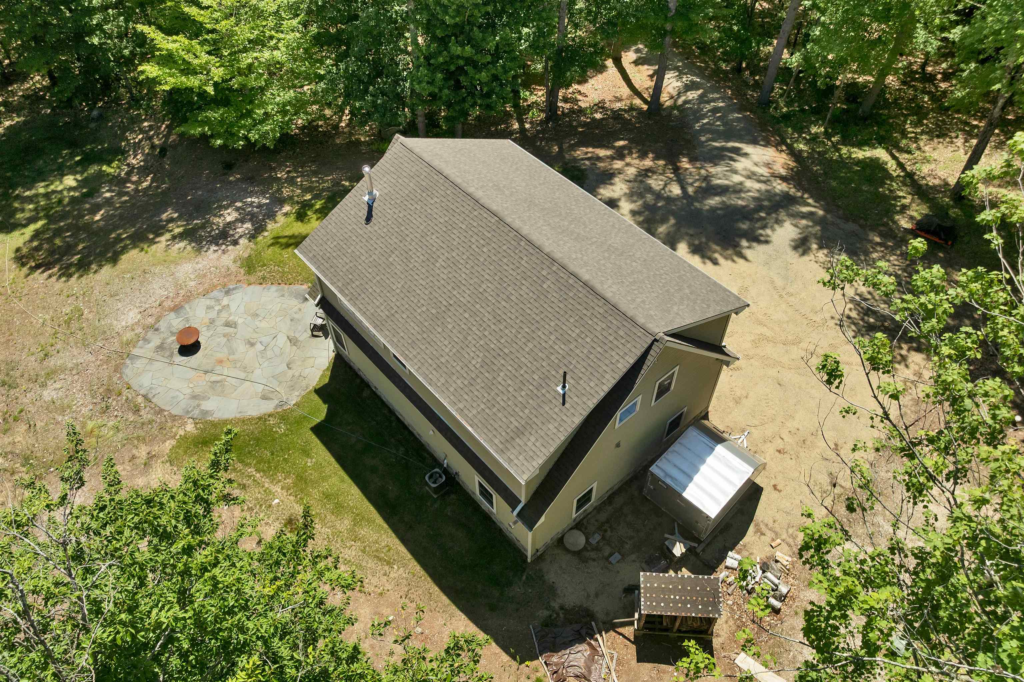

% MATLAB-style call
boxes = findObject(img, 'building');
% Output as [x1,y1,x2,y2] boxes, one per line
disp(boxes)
[295,134,750,568]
